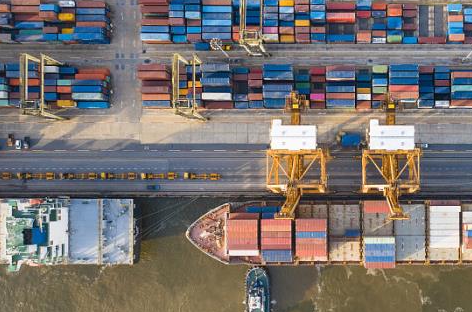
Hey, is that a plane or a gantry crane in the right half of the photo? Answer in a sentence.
You can see a gantry crane in the right half of the photo.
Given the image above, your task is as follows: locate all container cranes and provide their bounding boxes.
[172,52,209,122]
[352,84,425,222]
[14,53,66,121]
[241,0,273,57]
[265,84,335,222]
